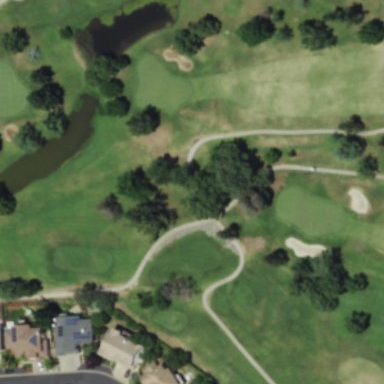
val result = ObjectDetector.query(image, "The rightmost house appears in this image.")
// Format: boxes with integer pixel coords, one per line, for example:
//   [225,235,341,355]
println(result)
[138,358,184,384]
